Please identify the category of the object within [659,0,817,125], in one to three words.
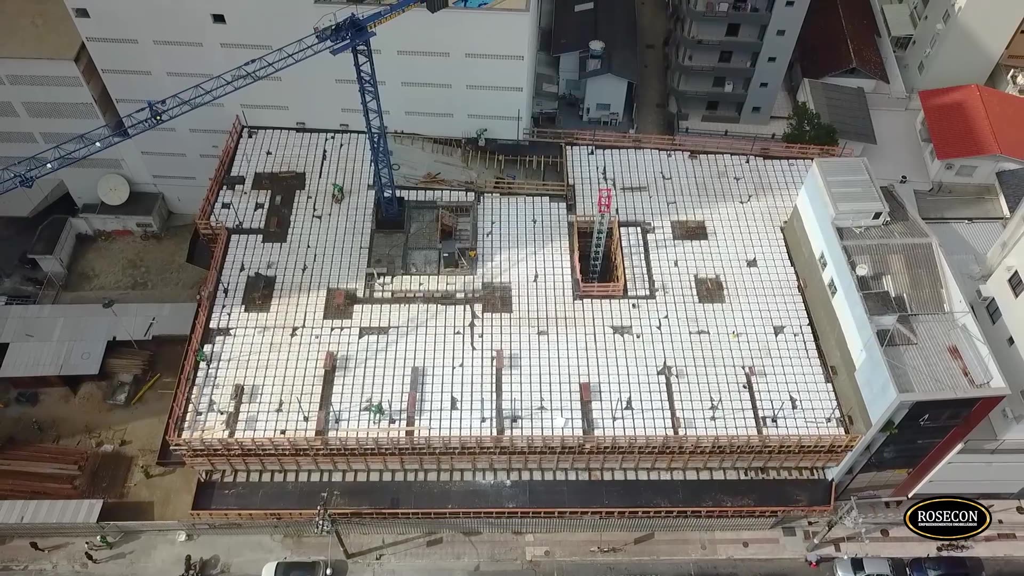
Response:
building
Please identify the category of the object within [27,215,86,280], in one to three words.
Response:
shed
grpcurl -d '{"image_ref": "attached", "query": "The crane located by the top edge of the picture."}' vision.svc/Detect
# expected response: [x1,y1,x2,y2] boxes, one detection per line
[0,0,467,229]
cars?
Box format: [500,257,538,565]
[902,552,985,576]
[260,564,334,576]
[829,553,903,576]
